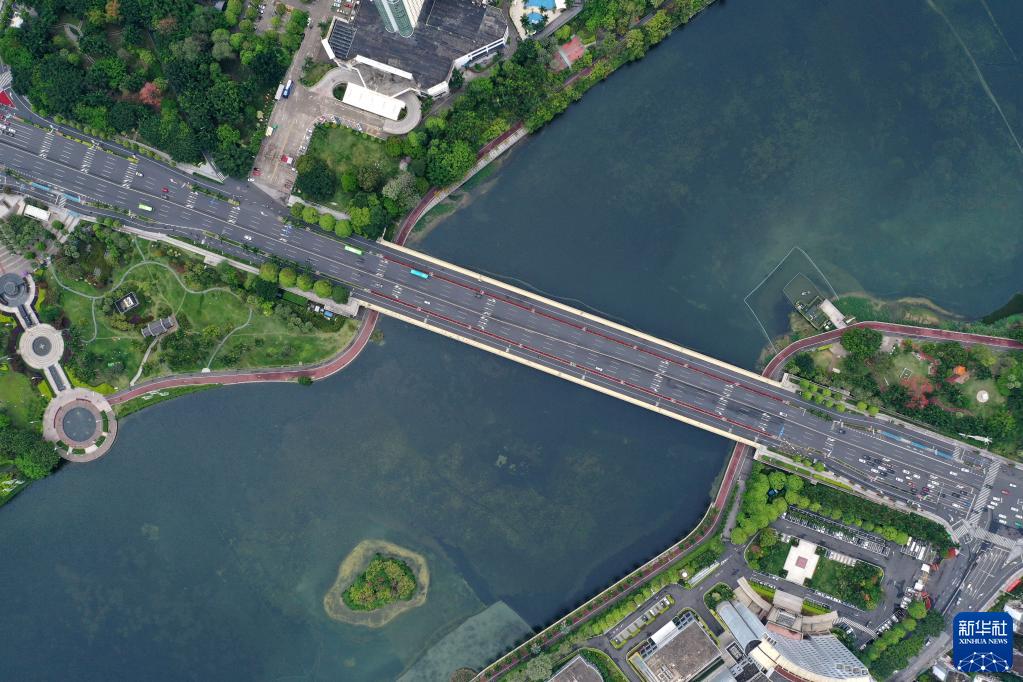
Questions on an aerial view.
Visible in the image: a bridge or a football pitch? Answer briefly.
bridge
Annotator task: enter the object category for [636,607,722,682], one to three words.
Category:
building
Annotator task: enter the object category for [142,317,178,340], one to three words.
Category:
house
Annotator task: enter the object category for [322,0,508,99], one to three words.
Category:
building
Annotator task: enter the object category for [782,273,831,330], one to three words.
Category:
pier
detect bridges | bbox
[355,240,797,449]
